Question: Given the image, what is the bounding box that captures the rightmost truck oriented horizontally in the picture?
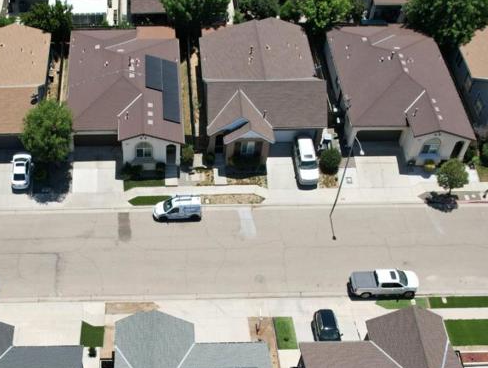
[347,269,417,297]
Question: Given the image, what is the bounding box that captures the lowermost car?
[312,305,344,342]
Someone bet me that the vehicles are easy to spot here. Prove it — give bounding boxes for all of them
[312,305,344,342]
[10,155,33,192]
[293,141,319,184]
[152,198,202,224]
[347,269,417,297]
